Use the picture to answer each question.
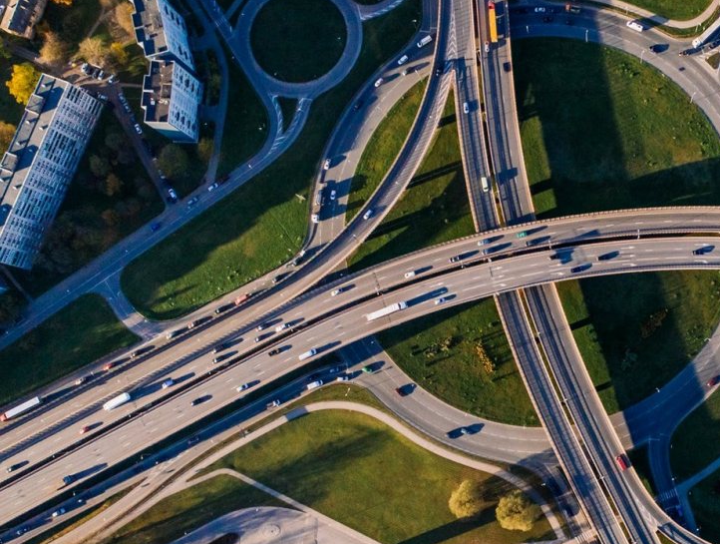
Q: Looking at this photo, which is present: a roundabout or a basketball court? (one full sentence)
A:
I can see a roundabout in this picture.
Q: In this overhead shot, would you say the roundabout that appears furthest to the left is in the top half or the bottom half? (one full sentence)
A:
You can find the roundabout that appears furthest to the left in the top half.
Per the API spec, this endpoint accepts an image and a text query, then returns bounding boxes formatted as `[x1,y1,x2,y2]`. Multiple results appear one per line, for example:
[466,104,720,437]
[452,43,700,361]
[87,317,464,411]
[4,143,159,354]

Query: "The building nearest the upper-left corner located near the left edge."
[0,0,56,42]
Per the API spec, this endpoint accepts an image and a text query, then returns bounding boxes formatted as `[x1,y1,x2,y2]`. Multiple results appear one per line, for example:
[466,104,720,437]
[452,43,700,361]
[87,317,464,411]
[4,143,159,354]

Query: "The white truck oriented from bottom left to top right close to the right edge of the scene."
[693,16,720,46]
